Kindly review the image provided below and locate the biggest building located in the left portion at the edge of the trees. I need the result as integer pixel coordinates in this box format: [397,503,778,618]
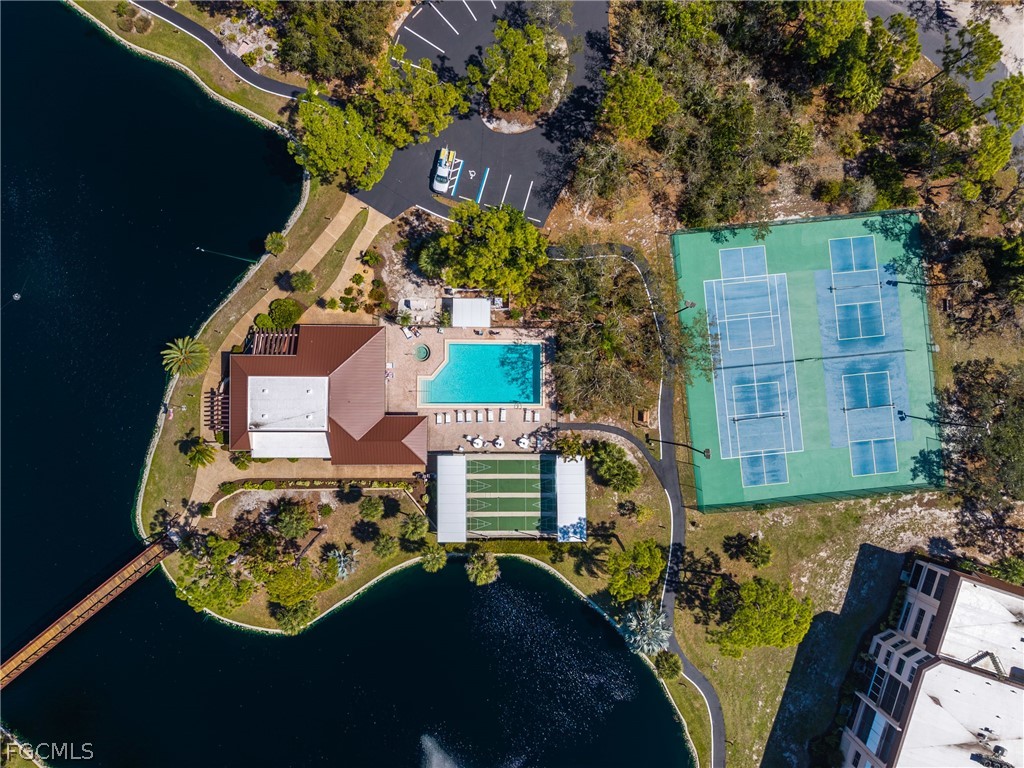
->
[204,324,428,466]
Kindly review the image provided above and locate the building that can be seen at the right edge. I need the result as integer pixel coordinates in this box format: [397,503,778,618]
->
[832,557,1024,768]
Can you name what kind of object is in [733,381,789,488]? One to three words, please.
sports court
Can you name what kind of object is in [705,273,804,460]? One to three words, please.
tennis court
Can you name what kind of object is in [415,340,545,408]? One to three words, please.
swimming pool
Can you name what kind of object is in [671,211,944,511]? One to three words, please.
sports court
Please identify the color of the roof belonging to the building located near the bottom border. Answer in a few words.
white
